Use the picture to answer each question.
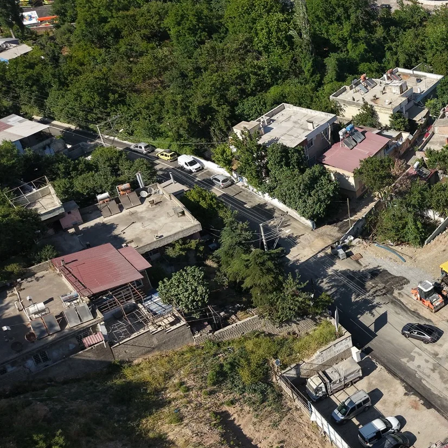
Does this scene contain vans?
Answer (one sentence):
Yes, a van can be made out from above.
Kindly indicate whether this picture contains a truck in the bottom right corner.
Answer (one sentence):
Yes, in the bottom right corner there is a truck.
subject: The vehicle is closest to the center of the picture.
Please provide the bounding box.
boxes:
[205,171,234,187]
